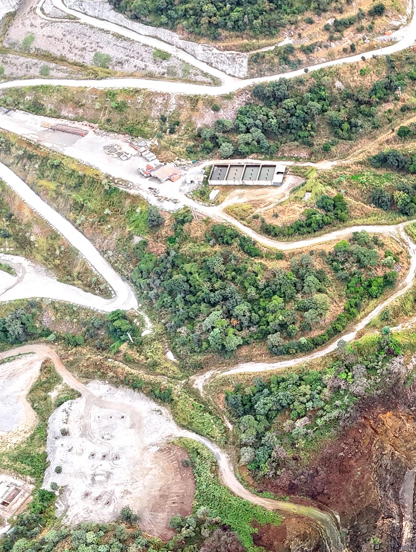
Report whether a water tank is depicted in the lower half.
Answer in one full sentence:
No, in the lower half there is no water tank.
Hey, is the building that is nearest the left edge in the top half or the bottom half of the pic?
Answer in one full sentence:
Seen from above, the building that is nearest the left edge lies in the top half of the view.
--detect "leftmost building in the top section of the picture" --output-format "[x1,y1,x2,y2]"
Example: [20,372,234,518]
[151,163,180,186]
